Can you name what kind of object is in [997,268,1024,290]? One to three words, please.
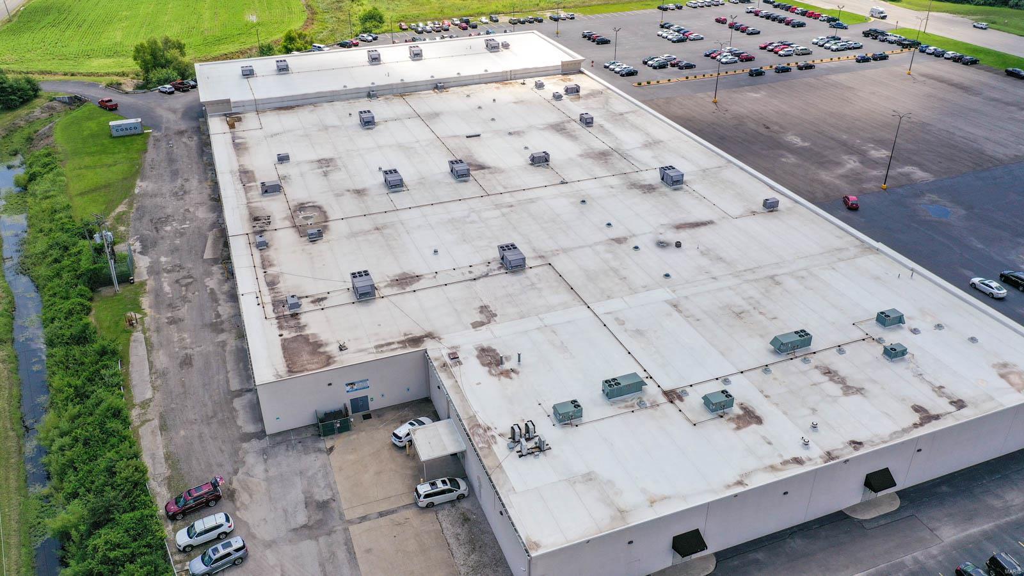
car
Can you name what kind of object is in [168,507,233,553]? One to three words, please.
car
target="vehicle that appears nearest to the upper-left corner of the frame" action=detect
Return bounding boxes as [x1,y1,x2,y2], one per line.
[97,96,119,109]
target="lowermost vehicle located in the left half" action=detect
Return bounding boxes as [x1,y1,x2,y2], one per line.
[183,531,250,576]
